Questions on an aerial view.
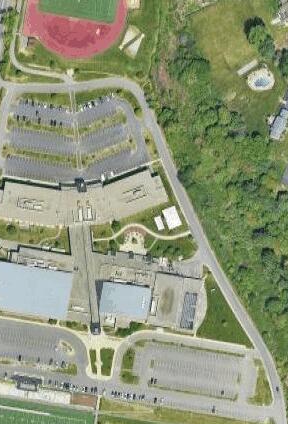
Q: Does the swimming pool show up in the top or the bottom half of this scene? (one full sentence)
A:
It is in the top half that the swimming pool appears.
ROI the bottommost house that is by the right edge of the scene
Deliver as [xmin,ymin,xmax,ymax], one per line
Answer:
[270,108,288,139]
